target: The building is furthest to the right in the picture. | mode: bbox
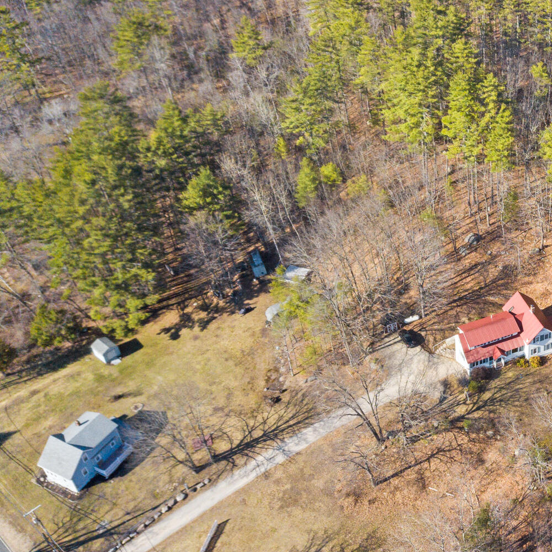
[452,289,552,374]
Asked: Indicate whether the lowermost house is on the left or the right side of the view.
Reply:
left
